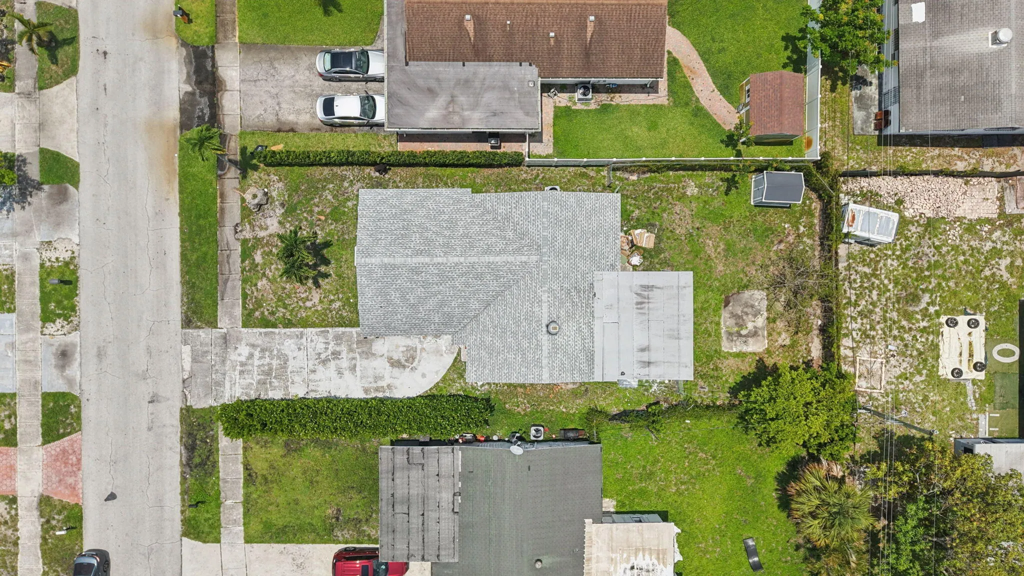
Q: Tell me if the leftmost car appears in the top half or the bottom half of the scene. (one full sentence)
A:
It is in the bottom half that the leftmost car appears.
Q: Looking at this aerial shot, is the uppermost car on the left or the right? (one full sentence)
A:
It is on the left.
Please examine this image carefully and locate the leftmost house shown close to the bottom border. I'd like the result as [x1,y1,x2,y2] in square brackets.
[379,439,603,576]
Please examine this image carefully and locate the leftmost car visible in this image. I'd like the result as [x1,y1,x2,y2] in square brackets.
[73,553,111,576]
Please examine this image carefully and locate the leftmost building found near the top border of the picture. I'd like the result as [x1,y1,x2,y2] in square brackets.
[383,0,669,140]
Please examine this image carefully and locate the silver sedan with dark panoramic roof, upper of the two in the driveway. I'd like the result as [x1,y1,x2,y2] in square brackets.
[317,39,383,76]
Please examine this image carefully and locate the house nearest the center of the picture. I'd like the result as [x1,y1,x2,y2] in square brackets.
[354,188,694,385]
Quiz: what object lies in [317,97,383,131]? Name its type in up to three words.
car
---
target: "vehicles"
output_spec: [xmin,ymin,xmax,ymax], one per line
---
[828,204,897,246]
[317,97,383,131]
[333,548,408,576]
[73,553,111,576]
[317,39,383,76]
